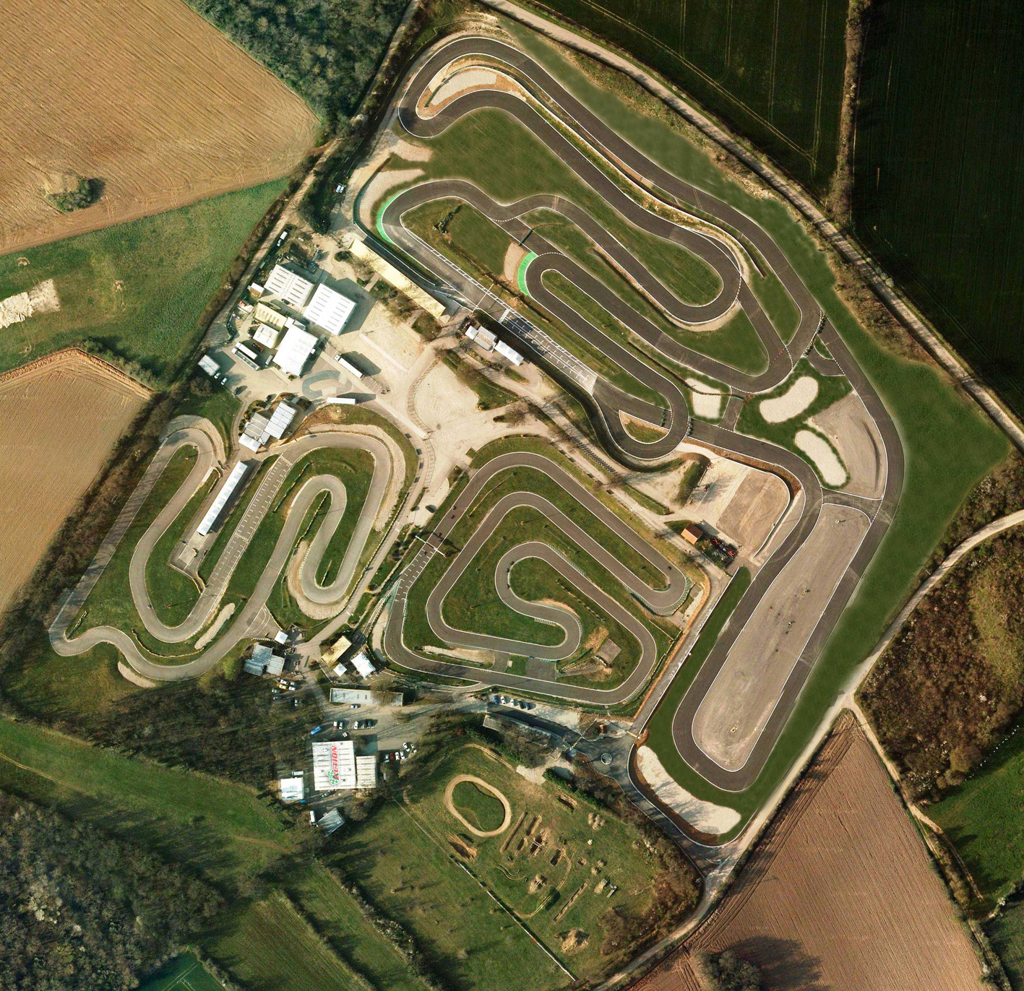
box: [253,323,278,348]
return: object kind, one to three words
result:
house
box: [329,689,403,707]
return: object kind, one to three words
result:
building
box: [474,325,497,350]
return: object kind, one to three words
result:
building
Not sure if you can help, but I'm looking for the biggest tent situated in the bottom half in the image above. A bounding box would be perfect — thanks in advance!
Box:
[351,652,375,680]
